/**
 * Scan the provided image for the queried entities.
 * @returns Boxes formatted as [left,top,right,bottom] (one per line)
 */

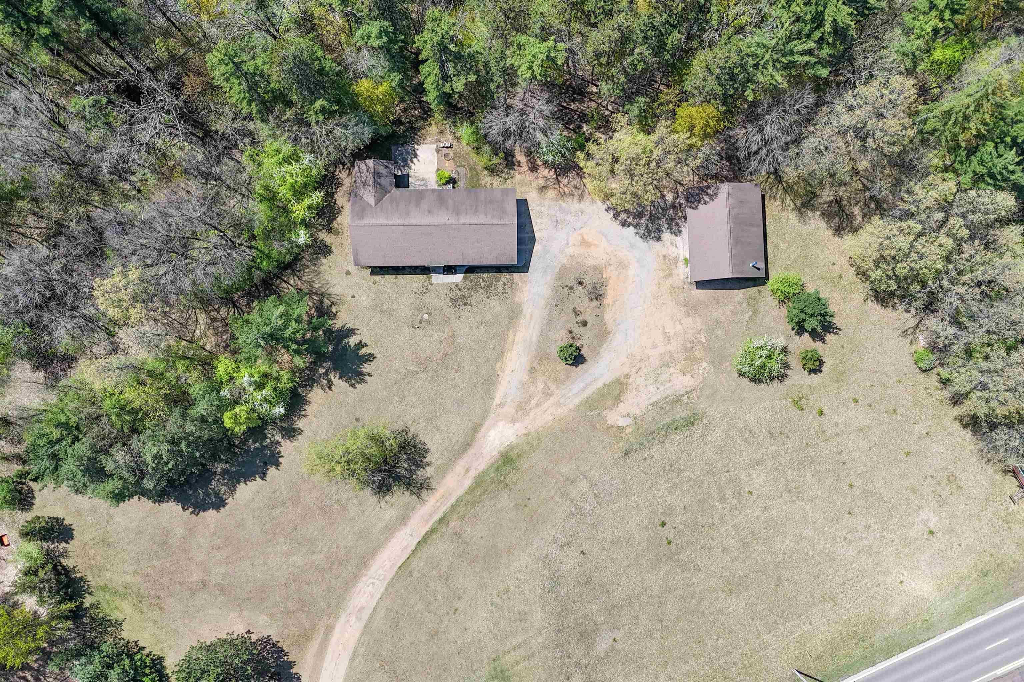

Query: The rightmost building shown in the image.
[681,182,766,284]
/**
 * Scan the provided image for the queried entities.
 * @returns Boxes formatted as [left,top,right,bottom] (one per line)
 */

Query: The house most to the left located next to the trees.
[349,159,517,267]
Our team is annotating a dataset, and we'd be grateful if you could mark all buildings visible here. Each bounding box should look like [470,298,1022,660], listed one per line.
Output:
[681,182,766,284]
[349,159,517,267]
